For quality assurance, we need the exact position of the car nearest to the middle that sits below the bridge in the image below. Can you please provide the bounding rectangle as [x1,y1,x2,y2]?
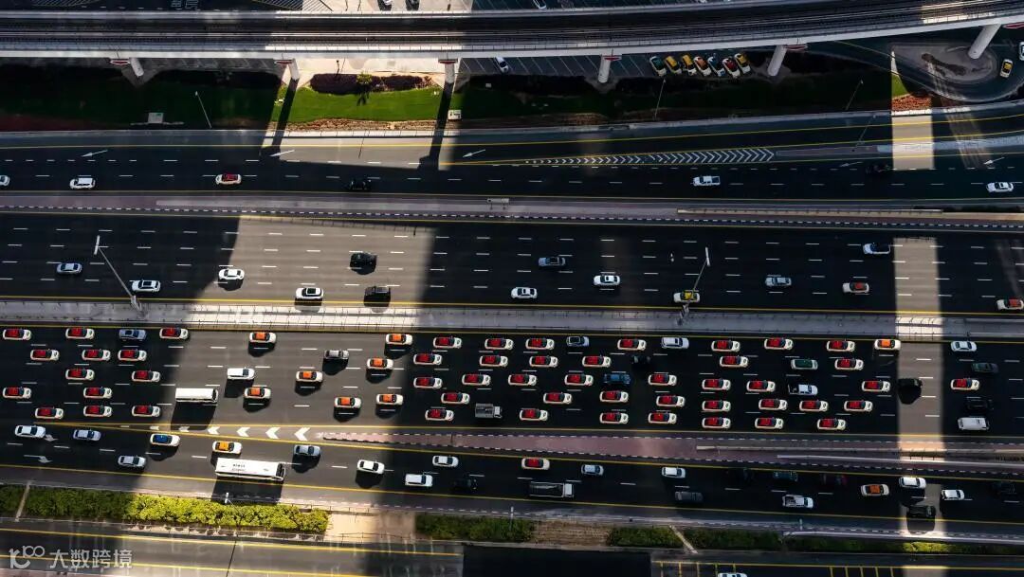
[511,287,537,299]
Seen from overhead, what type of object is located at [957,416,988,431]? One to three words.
vehicle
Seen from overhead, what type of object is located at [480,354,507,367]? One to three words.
vehicle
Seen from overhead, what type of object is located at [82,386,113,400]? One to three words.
car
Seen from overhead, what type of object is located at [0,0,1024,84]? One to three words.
bridge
